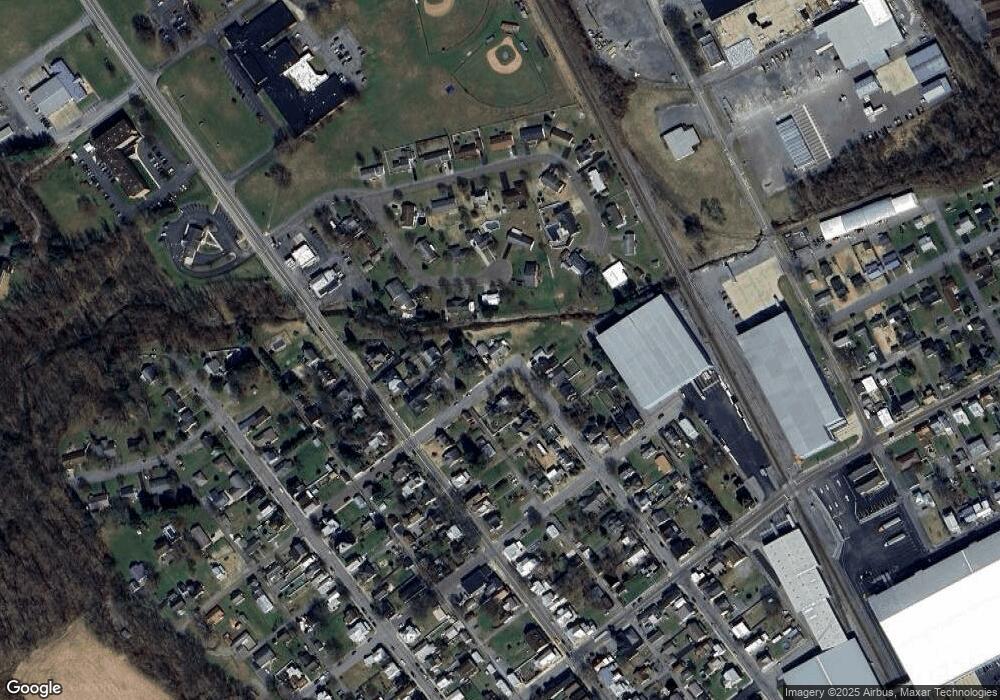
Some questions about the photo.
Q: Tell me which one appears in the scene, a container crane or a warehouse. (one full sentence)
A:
The one in the frame is a warehouse.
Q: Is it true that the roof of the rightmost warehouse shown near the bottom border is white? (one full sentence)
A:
Yes, the roof of the rightmost warehouse shown near the bottom border is white.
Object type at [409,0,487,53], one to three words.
baseball field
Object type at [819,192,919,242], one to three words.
shed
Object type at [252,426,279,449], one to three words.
house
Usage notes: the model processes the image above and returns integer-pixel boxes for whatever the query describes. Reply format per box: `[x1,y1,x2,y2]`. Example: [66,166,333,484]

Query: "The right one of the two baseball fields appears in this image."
[453,32,547,106]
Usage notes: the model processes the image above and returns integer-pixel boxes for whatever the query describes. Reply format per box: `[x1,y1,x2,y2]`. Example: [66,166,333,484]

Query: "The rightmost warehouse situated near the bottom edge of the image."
[868,532,1000,698]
